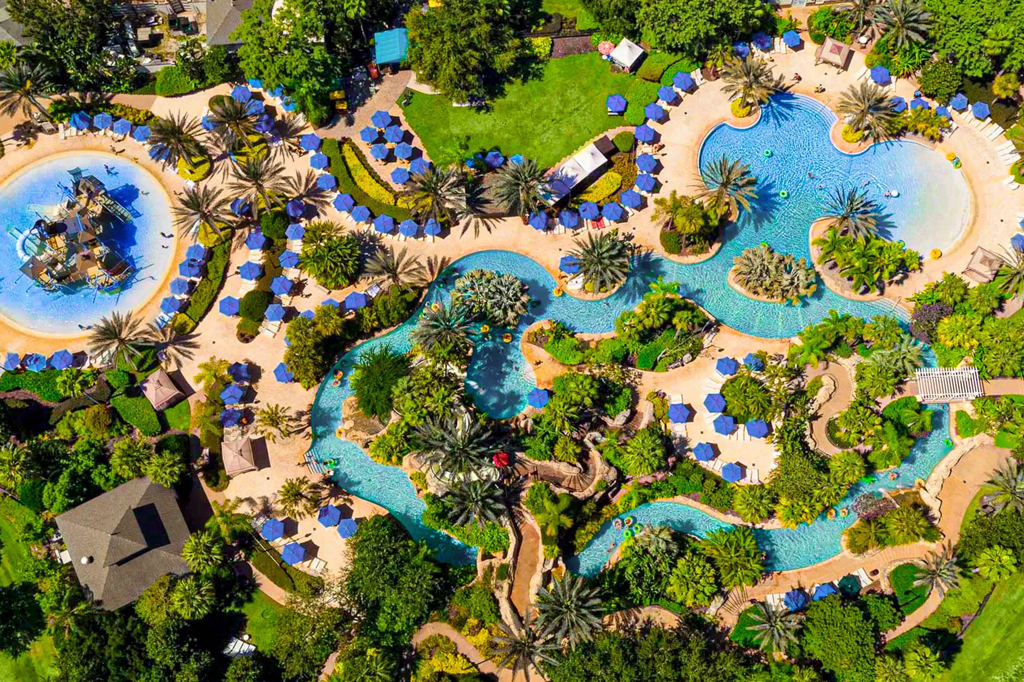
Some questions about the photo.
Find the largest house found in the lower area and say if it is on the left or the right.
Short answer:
left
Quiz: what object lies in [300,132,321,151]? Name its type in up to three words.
umbrella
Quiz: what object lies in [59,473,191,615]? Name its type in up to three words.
house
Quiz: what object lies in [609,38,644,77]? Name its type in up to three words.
tent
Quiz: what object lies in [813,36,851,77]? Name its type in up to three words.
gazebo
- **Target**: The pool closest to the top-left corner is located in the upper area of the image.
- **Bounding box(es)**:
[0,150,179,337]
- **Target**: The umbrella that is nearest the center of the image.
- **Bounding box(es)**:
[527,387,548,408]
